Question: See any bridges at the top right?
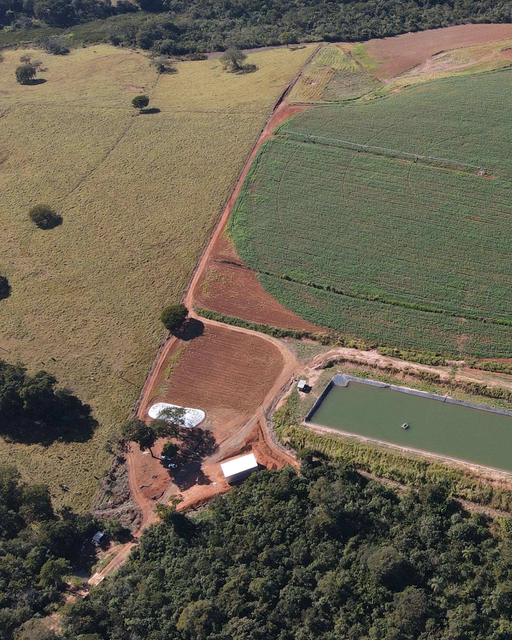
No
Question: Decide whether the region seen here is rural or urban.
rural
